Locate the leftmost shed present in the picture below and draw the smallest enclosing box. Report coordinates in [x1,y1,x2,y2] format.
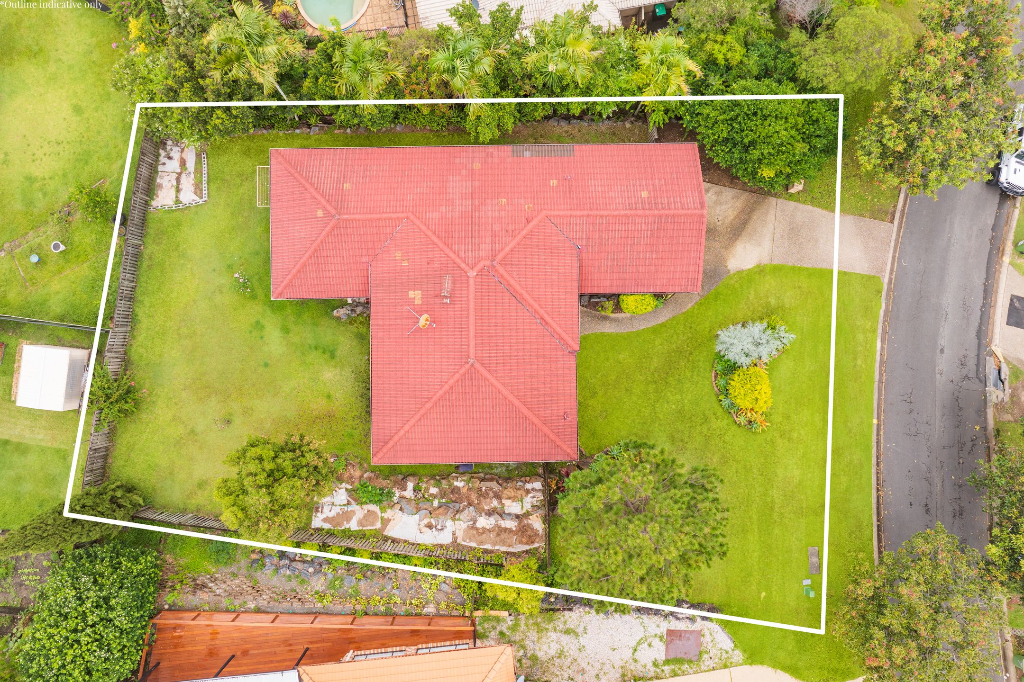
[16,345,91,411]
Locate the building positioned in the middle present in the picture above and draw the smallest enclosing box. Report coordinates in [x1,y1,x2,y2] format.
[267,140,710,466]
